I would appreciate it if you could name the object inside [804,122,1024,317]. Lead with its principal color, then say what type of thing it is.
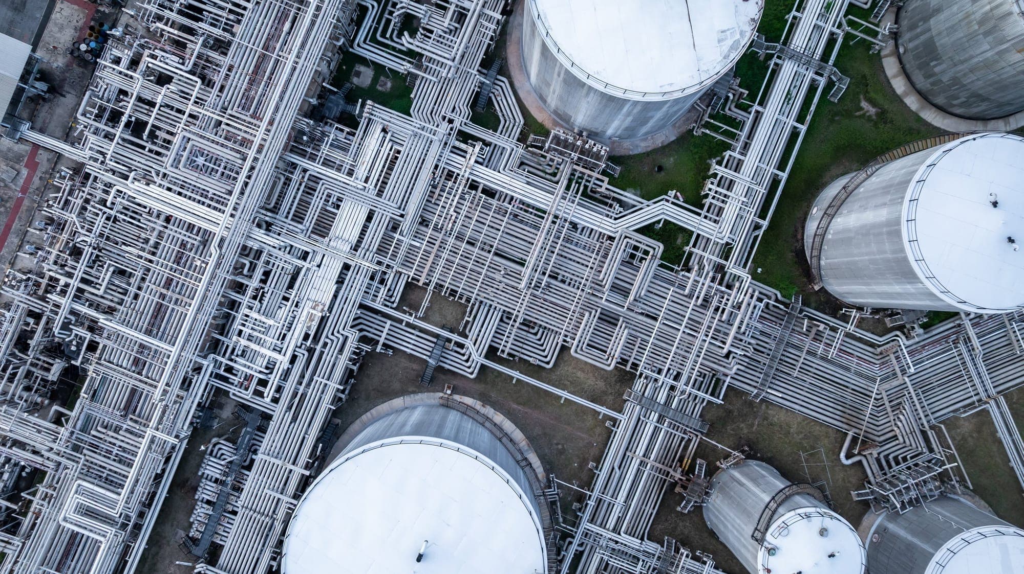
white storage tank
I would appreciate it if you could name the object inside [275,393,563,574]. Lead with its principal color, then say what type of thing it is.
white storage tank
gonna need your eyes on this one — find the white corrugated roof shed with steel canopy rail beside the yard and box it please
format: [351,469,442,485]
[0,34,59,131]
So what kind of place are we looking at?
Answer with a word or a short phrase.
industrial area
